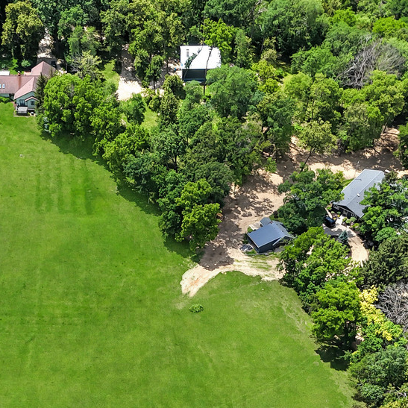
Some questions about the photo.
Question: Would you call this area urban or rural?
rural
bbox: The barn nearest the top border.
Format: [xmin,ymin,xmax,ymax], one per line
[179,47,222,82]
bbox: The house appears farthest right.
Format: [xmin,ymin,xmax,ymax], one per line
[334,169,388,220]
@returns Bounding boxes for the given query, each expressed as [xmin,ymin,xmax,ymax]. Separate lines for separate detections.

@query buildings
[246,220,289,254]
[179,47,222,82]
[334,169,388,220]
[0,61,57,113]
